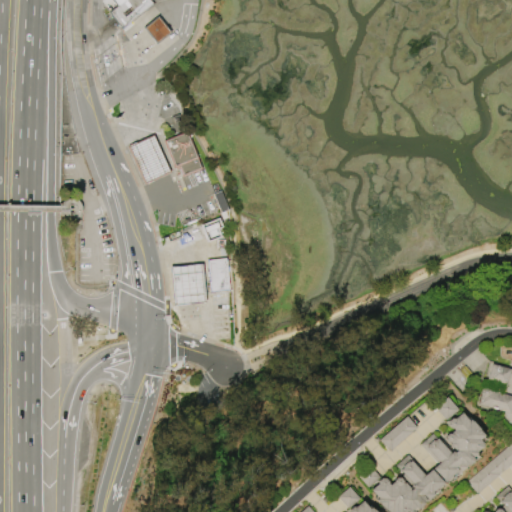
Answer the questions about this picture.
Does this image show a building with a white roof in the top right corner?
No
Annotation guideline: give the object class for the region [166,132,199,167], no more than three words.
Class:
building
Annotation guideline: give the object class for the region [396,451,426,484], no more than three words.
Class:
house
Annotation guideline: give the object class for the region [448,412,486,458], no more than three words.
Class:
house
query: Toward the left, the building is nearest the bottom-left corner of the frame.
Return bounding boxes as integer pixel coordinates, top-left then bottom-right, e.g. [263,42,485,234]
[173,262,208,304]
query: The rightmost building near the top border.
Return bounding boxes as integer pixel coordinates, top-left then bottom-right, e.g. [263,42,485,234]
[147,18,172,42]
